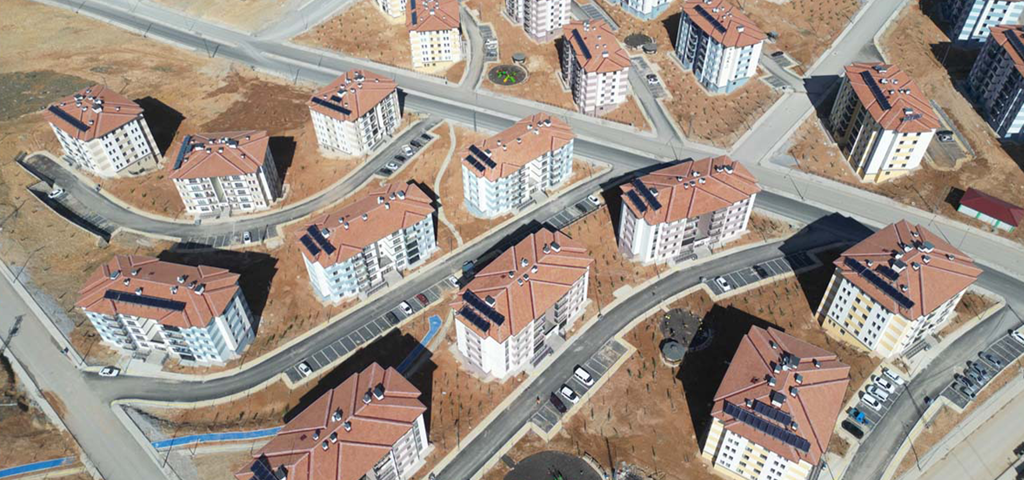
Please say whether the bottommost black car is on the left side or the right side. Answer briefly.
right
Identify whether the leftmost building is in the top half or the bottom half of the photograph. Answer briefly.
top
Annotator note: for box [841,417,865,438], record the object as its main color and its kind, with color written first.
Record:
black car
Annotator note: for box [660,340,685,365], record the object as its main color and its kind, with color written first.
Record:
gray gazebo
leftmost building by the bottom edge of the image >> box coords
[235,363,430,480]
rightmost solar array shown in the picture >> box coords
[1002,30,1024,61]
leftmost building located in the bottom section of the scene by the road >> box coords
[74,254,255,370]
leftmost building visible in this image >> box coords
[41,84,161,177]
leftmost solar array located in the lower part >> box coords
[106,290,186,313]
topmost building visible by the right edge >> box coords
[914,0,1023,45]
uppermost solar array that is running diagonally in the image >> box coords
[693,4,727,35]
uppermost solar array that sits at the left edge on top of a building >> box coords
[48,104,90,132]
